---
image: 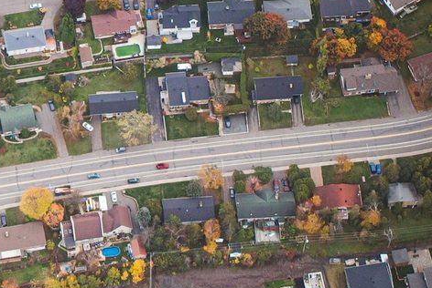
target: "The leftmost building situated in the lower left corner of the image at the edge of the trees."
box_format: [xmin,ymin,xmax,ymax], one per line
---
[0,222,50,261]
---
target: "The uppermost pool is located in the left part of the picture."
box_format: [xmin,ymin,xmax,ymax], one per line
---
[114,43,143,57]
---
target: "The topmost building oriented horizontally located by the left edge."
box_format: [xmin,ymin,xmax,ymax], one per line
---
[2,26,56,55]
